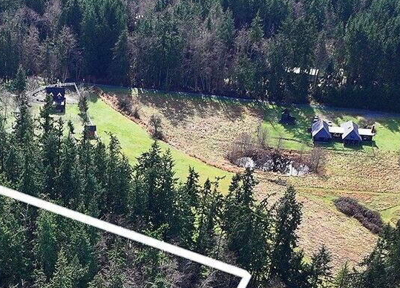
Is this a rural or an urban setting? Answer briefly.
rural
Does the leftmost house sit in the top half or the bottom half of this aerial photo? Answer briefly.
top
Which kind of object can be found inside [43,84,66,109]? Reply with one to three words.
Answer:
house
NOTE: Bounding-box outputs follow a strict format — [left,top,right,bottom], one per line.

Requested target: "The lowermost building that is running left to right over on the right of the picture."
[307,121,385,145]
